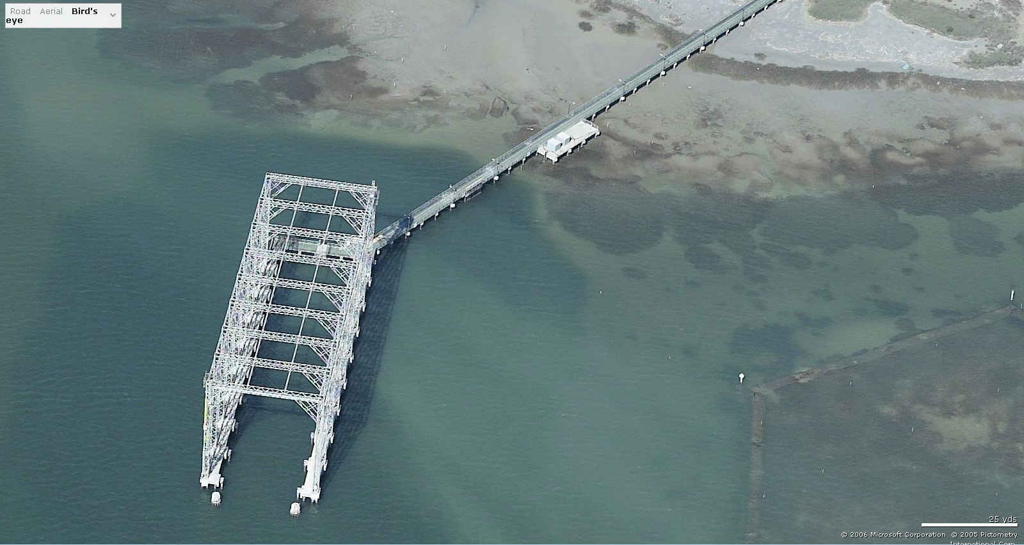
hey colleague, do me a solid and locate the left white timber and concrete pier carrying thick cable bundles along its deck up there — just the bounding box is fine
[203,233,294,492]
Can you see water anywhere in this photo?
Yes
